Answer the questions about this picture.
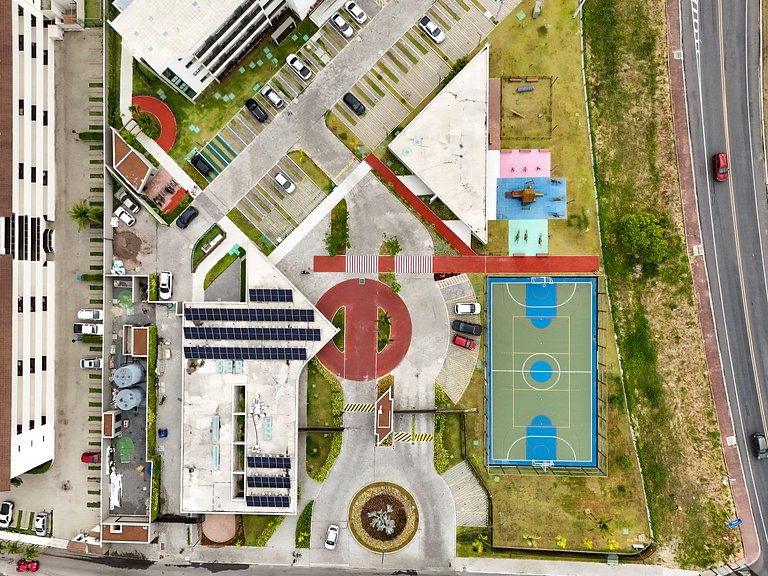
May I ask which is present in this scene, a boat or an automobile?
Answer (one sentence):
It is an automobile that can be seen here.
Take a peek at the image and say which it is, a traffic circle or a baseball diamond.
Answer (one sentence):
I can see a traffic circle in this picture.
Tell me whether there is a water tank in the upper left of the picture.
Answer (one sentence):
No, I see no water tank in the upper left of the picture.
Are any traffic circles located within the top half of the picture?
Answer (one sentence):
No, I can find no traffic circle within the top half of the picture.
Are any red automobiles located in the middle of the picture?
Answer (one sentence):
Yes, the scene does show a red automobile in the middle of the picture.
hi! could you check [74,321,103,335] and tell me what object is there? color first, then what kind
white vehicle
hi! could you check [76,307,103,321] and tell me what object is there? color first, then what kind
white car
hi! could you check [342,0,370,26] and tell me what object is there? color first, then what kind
white car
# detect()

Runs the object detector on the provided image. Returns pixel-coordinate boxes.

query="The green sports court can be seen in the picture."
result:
[488,277,597,466]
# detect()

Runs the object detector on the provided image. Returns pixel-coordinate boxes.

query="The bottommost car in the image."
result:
[14,557,42,574]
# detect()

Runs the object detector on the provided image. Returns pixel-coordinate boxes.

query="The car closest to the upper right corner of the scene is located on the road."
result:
[711,152,730,183]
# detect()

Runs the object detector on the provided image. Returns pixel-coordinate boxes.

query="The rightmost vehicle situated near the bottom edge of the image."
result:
[324,522,340,551]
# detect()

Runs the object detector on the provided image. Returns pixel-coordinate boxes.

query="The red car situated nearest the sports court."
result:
[451,334,478,350]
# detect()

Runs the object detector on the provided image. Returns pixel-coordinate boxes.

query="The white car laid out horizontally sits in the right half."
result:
[454,302,482,316]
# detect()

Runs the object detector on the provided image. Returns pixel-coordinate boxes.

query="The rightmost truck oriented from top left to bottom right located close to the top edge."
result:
[417,14,446,44]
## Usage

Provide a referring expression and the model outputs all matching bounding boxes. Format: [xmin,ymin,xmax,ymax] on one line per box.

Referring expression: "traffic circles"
[348,482,420,554]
